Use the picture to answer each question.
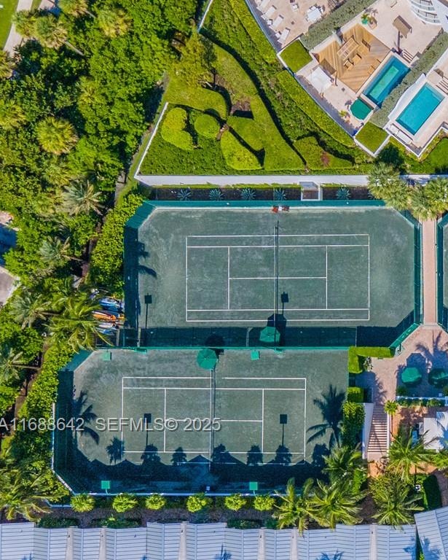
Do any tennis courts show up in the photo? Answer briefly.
Yes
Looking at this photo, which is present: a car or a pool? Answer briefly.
pool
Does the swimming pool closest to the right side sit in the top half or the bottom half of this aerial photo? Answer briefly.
top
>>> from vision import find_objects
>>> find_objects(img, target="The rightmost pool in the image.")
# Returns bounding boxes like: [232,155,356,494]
[398,81,447,138]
